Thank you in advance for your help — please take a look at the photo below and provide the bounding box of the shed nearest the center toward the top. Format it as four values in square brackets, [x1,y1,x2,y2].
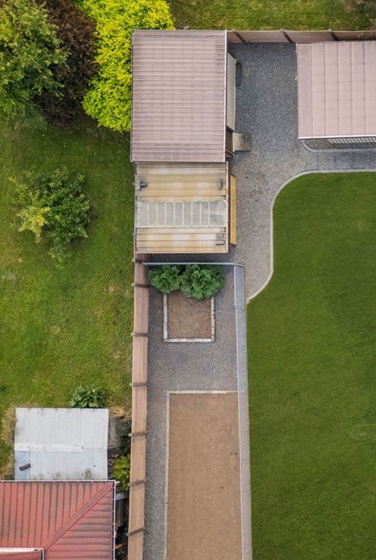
[134,161,236,254]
